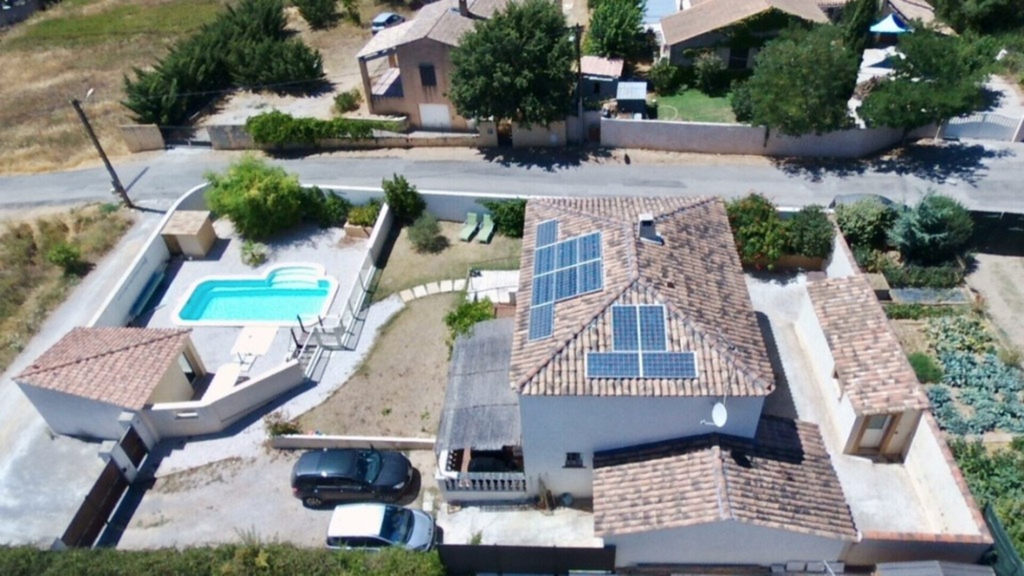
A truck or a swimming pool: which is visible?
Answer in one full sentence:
It is a swimming pool that can be seen here.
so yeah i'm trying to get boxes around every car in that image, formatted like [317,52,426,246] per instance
[823,188,912,224]
[316,500,439,563]
[290,441,419,502]
[364,15,403,36]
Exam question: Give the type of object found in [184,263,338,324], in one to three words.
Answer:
swimming pool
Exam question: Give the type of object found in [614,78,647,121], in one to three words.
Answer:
shed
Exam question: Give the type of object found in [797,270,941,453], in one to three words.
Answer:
shed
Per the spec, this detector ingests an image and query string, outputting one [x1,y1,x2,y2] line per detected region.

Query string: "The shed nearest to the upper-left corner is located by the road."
[153,203,217,258]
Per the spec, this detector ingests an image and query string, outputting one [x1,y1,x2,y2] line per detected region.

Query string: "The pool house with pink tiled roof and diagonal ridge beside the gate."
[8,319,209,443]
